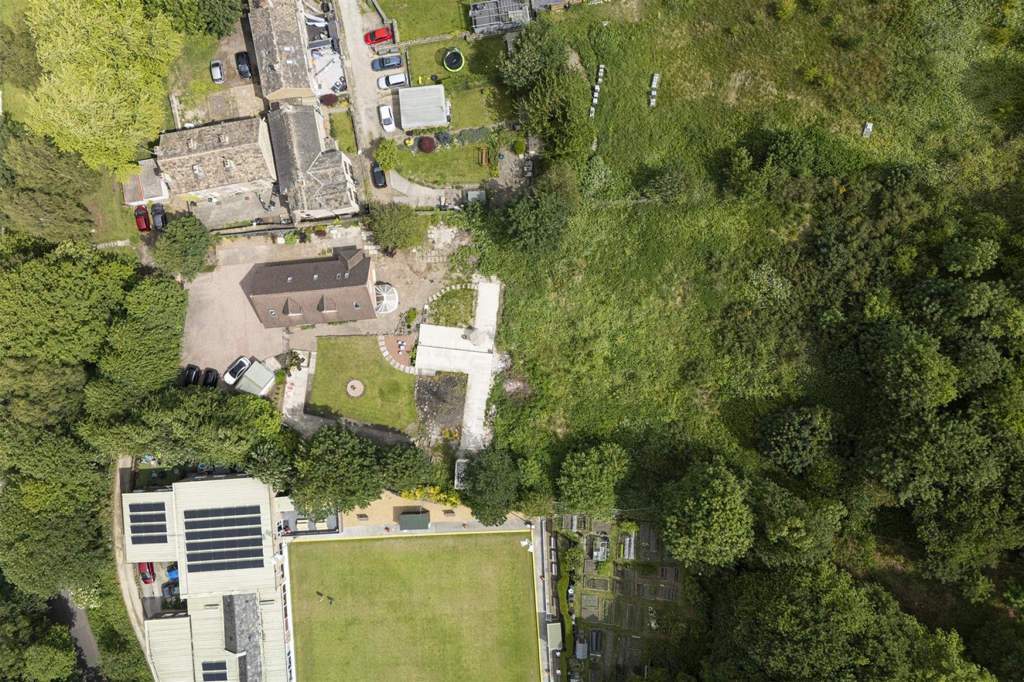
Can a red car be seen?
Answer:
Yes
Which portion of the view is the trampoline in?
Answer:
top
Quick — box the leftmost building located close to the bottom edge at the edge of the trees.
[121,473,301,682]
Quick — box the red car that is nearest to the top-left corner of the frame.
[134,205,153,234]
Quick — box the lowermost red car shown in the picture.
[138,563,156,585]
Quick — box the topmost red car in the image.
[366,28,394,46]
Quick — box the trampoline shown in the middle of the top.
[443,44,463,67]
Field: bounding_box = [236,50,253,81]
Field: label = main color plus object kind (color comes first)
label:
black car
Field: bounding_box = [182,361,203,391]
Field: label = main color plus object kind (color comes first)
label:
black car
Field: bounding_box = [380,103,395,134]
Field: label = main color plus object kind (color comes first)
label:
white car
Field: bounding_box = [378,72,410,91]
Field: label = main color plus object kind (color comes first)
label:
white car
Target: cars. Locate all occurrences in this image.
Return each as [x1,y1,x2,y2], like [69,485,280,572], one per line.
[209,59,226,86]
[378,72,410,91]
[366,28,394,46]
[380,103,395,134]
[201,364,221,394]
[225,356,251,385]
[236,50,253,81]
[138,563,156,585]
[182,361,203,391]
[161,565,177,579]
[151,203,169,230]
[373,55,404,73]
[161,582,178,597]
[134,205,153,234]
[371,162,388,190]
